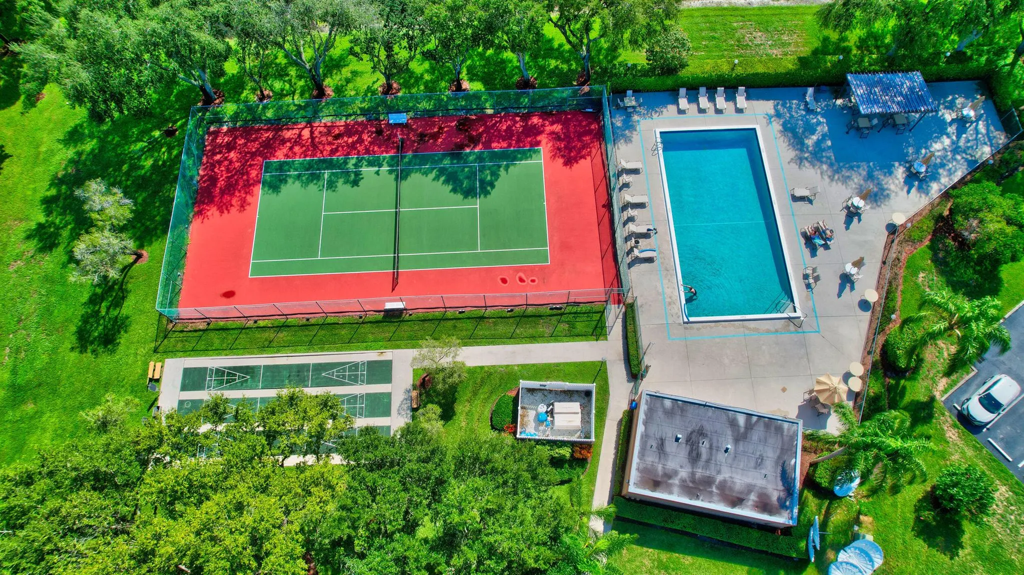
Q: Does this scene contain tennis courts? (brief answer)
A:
Yes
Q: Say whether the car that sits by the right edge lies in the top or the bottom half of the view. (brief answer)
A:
bottom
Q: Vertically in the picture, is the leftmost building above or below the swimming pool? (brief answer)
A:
below it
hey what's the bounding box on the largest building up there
[624,390,802,528]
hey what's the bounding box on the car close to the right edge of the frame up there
[960,378,1024,428]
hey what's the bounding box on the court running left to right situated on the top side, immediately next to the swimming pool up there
[175,108,622,323]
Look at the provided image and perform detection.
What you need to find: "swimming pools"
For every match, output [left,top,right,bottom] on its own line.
[655,124,801,321]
